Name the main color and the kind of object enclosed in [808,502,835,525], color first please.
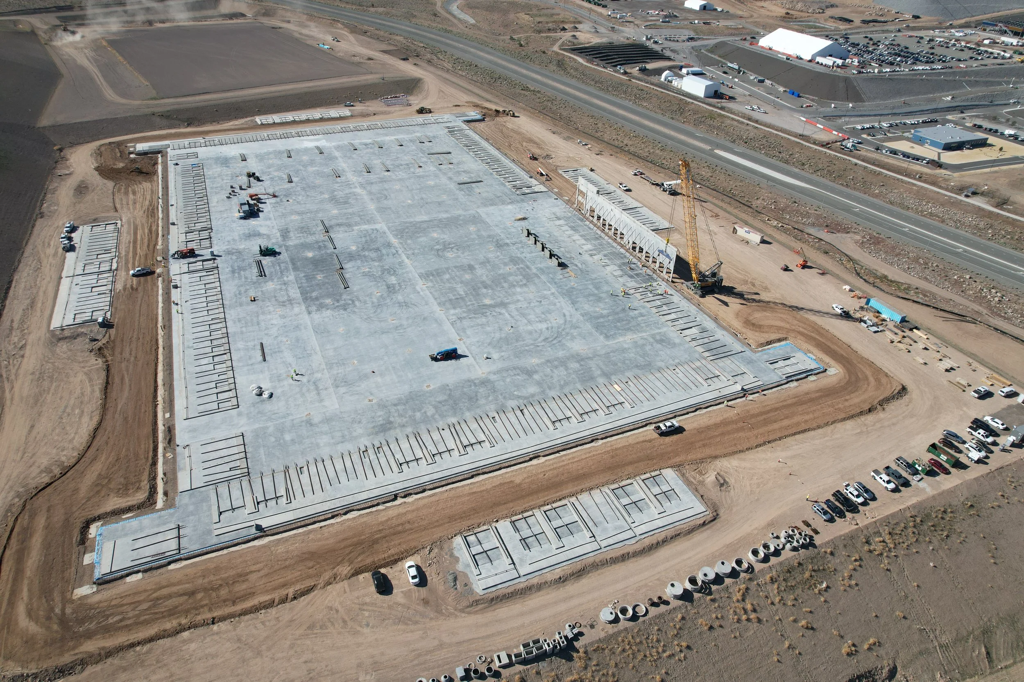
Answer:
gray car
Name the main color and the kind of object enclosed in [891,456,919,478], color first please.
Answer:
gray car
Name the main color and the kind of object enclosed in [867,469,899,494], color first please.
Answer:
white truck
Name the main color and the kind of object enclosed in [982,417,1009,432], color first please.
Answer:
white car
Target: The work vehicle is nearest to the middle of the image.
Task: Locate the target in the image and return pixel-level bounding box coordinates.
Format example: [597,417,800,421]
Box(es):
[428,349,458,364]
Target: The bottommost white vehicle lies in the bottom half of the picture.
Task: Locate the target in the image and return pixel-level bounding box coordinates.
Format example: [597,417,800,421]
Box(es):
[405,560,421,587]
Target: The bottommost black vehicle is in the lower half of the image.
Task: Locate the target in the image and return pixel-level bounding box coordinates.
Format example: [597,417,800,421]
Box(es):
[370,572,388,596]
